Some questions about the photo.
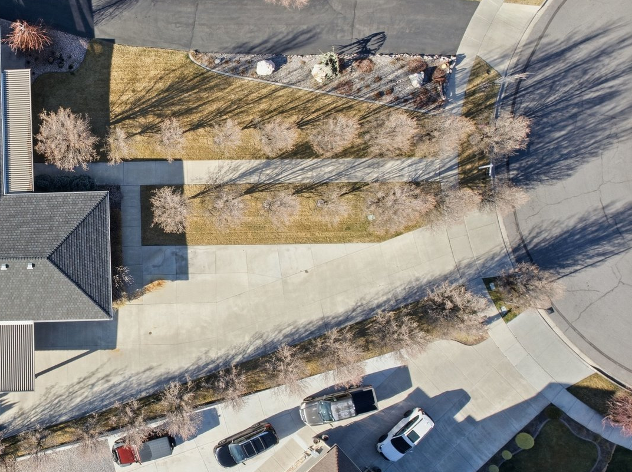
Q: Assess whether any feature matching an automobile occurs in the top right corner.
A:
No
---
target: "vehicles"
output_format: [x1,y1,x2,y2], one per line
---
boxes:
[376,405,436,460]
[296,382,381,425]
[112,433,173,467]
[211,420,282,465]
